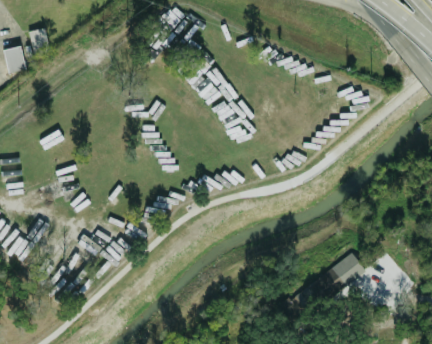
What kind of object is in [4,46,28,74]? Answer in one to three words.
shed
